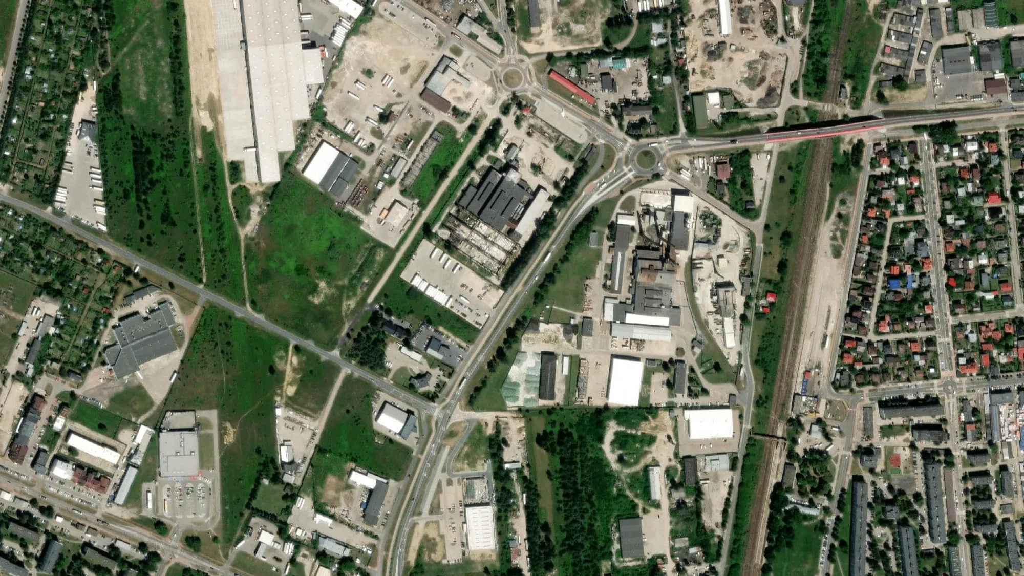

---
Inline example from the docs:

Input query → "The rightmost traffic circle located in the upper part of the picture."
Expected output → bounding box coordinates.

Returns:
[630,143,663,176]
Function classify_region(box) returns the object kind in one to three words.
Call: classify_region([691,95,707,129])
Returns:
shed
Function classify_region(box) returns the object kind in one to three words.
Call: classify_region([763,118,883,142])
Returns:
bridge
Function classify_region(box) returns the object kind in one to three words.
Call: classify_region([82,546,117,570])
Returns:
building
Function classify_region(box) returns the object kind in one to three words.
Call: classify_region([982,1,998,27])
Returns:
greenhouse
